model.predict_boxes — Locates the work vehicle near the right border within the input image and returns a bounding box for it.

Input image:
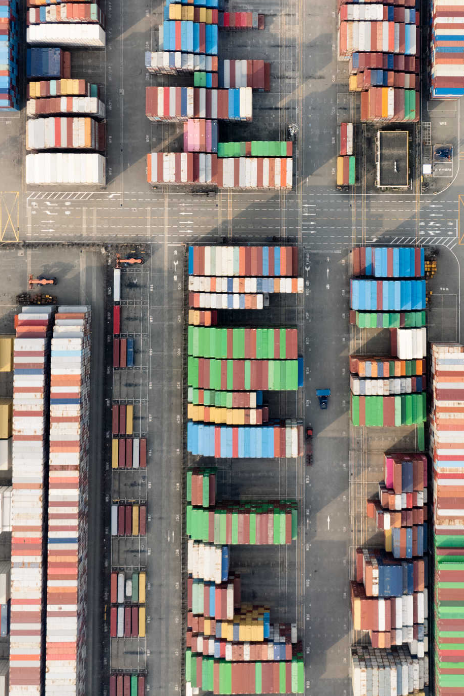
[435,147,455,159]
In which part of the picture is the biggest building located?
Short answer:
top right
